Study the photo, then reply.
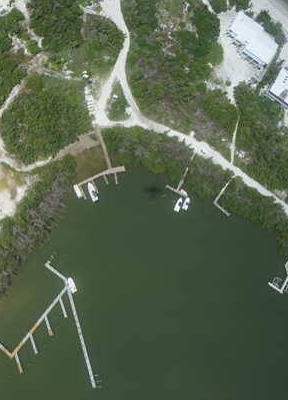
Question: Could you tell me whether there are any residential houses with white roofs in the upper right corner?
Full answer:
Yes, looking in the upper right corner, one can make out a residential house with a white roof.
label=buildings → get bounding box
[226,11,279,69]
[262,68,288,111]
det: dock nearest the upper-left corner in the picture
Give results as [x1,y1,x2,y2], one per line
[77,128,125,199]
